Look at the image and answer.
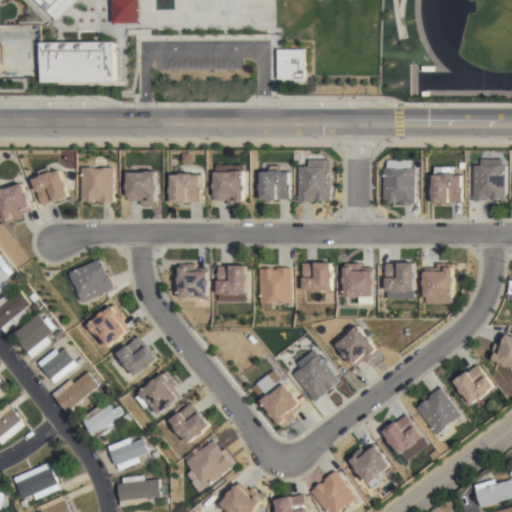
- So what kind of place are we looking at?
residential area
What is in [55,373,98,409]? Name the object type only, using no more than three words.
house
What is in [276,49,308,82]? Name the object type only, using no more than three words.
building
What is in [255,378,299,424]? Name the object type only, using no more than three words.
house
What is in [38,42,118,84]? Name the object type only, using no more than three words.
building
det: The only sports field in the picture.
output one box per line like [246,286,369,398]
[276,0,380,76]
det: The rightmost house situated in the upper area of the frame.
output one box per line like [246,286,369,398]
[472,158,506,202]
